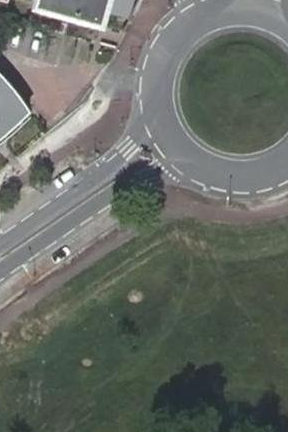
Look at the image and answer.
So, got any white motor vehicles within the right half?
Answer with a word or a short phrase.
No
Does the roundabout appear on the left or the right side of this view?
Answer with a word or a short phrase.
right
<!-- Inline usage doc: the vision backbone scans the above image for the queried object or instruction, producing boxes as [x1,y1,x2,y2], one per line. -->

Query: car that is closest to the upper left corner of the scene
[10,28,22,49]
